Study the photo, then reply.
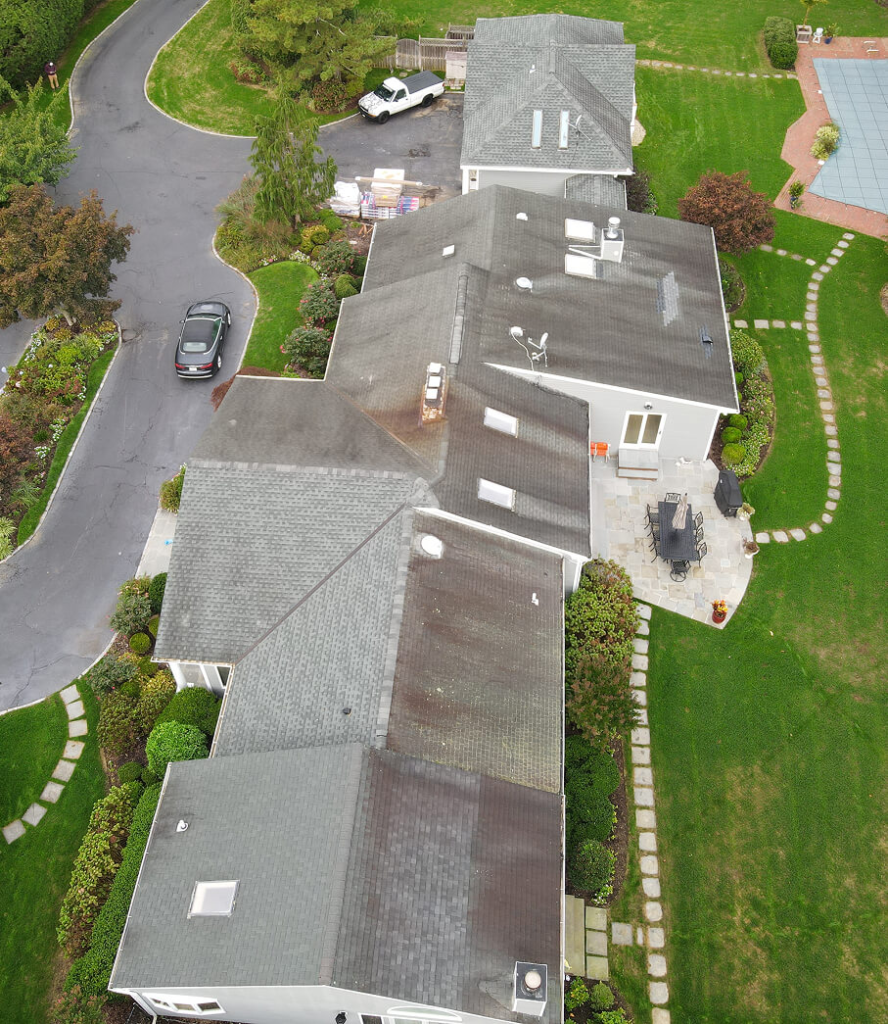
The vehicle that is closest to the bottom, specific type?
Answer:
car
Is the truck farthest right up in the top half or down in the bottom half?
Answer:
top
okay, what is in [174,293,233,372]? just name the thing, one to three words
car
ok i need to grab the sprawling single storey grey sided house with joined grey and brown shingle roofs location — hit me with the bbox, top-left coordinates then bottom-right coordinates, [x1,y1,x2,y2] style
[99,186,741,1024]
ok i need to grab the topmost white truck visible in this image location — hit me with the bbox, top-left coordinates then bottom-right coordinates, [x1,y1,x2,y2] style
[351,71,445,124]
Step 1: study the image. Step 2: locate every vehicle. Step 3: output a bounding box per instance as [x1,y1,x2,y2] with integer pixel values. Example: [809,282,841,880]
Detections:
[174,293,233,372]
[351,71,445,124]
